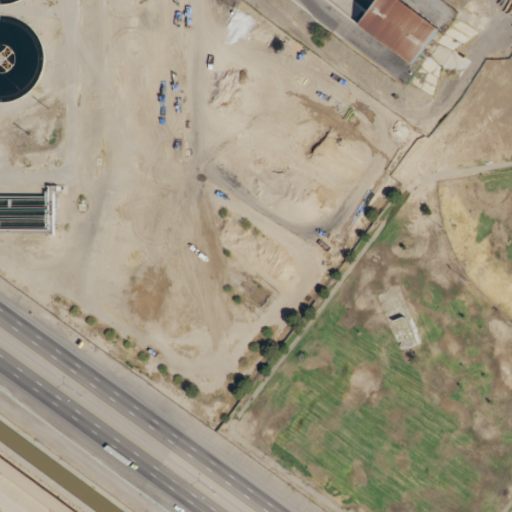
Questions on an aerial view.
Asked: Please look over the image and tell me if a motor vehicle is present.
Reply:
Yes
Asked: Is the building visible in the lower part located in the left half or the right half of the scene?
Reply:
right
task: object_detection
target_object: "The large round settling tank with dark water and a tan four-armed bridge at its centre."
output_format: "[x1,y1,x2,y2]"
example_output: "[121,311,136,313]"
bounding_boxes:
[0,16,44,103]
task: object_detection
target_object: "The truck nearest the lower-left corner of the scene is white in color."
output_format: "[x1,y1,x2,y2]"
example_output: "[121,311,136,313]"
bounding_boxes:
[104,444,142,472]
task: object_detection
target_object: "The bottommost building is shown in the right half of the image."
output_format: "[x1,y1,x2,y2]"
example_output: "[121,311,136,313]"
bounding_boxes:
[390,316,422,350]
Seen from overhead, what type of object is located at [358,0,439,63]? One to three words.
building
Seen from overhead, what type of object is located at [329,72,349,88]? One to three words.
vehicle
